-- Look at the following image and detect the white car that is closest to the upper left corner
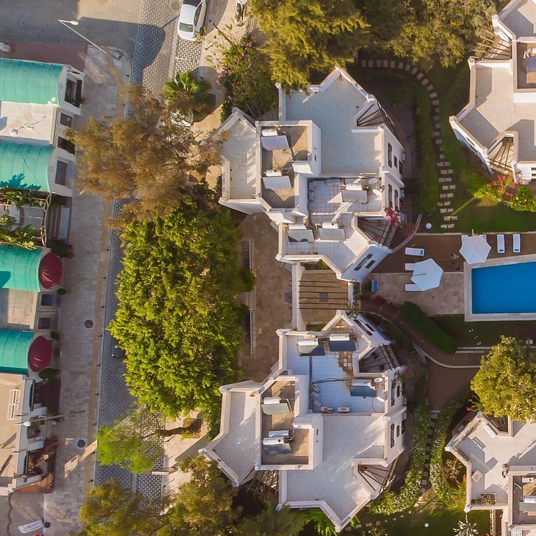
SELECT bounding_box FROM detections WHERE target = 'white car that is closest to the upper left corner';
[172,0,204,38]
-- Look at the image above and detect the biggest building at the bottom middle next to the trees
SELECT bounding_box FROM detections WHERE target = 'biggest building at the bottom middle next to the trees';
[196,309,415,535]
